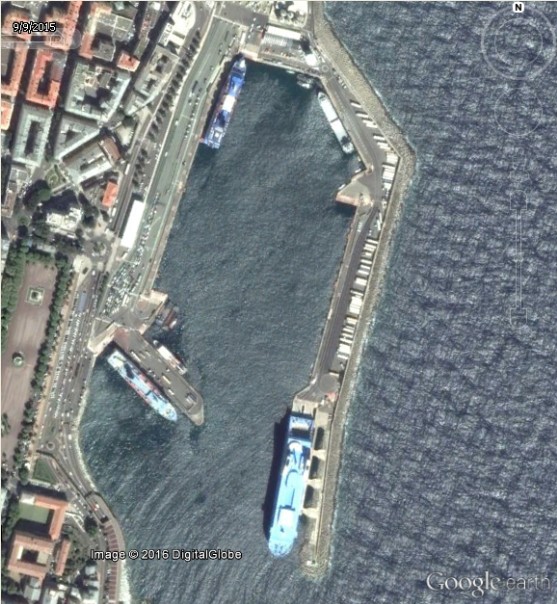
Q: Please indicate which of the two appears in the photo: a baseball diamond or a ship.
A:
ship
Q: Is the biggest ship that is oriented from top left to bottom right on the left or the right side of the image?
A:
left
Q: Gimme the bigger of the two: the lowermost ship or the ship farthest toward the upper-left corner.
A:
the lowermost ship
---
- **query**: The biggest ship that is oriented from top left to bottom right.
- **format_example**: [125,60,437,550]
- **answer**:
[107,351,176,422]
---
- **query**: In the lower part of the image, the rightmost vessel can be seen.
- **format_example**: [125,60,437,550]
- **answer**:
[270,415,314,559]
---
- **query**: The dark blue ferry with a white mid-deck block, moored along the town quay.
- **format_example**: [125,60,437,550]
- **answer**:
[204,57,244,150]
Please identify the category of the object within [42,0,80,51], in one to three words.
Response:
building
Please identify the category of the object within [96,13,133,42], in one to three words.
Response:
building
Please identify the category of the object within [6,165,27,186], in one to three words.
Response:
house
